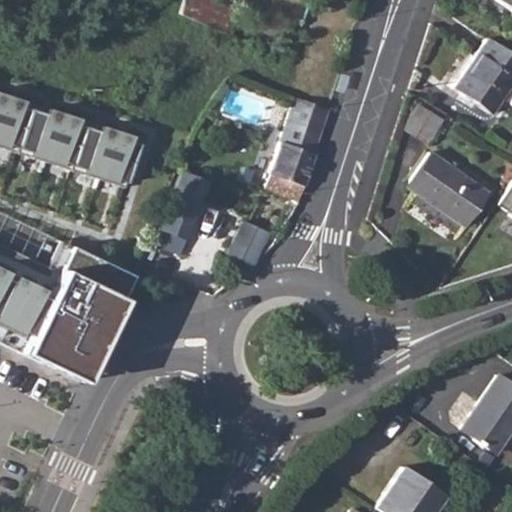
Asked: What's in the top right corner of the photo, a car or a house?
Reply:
house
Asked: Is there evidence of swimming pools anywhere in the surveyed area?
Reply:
Yes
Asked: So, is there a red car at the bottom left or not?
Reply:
No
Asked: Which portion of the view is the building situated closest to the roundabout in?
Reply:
center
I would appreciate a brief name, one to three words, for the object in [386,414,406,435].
car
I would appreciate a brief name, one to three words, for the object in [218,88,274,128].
swimming pool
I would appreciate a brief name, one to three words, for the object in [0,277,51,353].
building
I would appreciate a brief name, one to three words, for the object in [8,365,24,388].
car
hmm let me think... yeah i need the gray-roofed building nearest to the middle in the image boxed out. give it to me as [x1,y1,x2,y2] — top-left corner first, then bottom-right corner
[230,222,268,266]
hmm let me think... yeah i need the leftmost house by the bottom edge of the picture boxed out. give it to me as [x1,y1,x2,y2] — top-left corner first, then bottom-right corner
[378,466,451,512]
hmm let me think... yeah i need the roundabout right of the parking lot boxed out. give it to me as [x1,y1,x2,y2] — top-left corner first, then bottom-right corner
[206,266,376,438]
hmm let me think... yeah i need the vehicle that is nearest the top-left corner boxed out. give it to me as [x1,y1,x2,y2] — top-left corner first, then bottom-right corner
[202,208,218,233]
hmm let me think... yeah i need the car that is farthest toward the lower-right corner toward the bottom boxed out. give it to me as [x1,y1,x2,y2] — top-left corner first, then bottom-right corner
[458,434,478,452]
